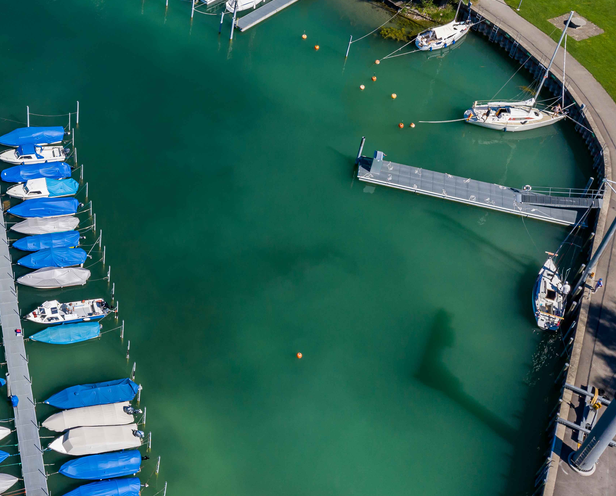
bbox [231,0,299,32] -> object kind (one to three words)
pier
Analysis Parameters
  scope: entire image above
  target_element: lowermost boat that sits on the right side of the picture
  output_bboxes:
[527,203,592,361]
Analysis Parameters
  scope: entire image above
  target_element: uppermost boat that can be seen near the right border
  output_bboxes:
[423,8,599,138]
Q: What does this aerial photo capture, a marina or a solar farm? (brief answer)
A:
marina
